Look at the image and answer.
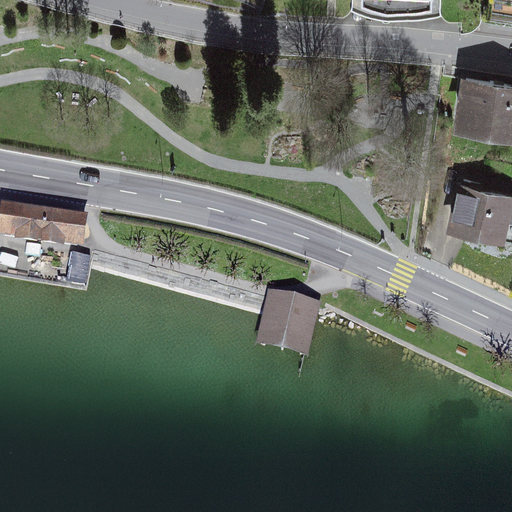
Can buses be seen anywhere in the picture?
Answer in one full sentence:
No, the picture doesn't show any bus.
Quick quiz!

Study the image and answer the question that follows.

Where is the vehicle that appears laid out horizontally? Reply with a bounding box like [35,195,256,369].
[78,169,100,181]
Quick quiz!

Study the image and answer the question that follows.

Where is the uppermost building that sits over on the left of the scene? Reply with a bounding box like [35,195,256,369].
[0,198,88,247]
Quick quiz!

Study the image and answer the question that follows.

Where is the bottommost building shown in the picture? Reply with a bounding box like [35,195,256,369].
[255,288,321,357]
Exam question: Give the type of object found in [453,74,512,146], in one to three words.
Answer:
house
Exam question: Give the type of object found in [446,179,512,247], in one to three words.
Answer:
house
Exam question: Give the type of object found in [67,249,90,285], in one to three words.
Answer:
shed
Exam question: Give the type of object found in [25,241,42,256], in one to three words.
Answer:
umbrella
